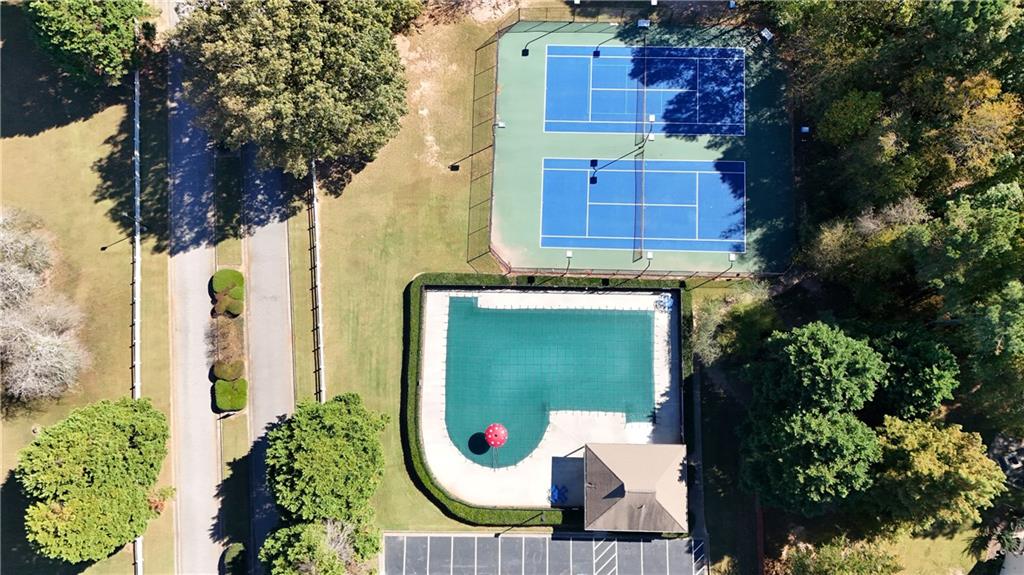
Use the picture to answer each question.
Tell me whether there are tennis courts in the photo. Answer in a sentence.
Yes, a tennis court can be made out from above.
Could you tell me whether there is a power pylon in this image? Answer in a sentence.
No, the frame has no power pylon in it.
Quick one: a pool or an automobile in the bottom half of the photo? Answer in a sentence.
There is a pool in the bottom half of the photo.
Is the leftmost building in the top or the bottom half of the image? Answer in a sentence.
Seen from above, the leftmost building lies in the bottom half of the view.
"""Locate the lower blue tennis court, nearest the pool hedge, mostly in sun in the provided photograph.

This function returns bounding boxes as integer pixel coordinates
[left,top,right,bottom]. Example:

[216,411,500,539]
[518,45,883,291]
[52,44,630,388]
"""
[540,148,746,258]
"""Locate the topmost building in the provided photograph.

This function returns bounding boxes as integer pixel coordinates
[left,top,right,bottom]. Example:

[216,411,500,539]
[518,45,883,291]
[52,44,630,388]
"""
[585,442,690,533]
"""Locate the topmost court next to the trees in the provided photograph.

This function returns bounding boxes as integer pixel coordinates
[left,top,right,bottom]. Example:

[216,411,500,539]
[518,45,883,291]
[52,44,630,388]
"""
[544,34,745,142]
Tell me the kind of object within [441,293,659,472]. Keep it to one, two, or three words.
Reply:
swimming pool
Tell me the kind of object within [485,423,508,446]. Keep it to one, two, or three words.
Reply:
fountain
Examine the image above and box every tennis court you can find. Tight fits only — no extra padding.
[544,34,745,142]
[540,148,746,258]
